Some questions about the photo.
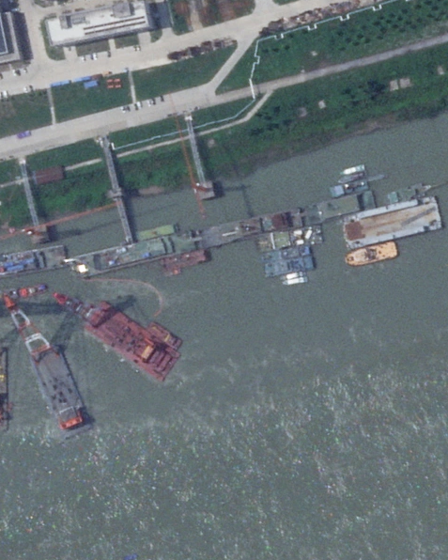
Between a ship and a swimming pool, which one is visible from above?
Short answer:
ship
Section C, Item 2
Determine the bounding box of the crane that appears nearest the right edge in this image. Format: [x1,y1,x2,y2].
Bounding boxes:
[168,89,209,220]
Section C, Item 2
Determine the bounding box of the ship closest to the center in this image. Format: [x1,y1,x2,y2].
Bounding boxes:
[162,250,207,276]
